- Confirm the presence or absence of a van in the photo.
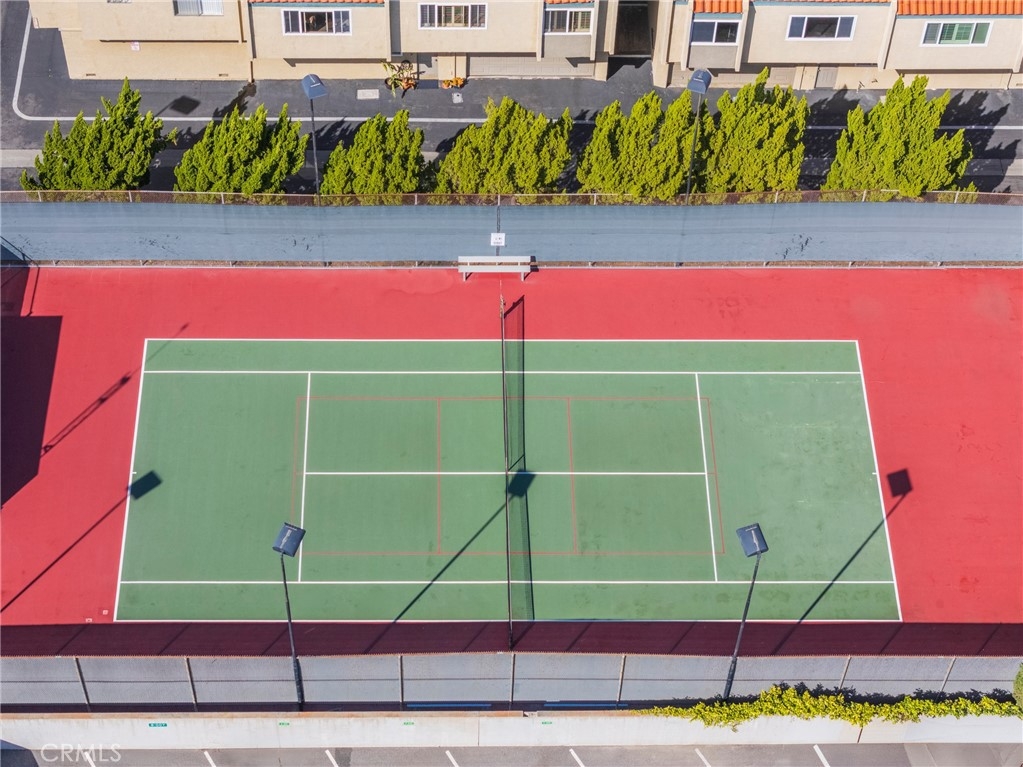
No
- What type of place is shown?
sports ground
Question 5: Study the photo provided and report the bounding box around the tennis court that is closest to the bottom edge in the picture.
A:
[0,268,1023,712]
